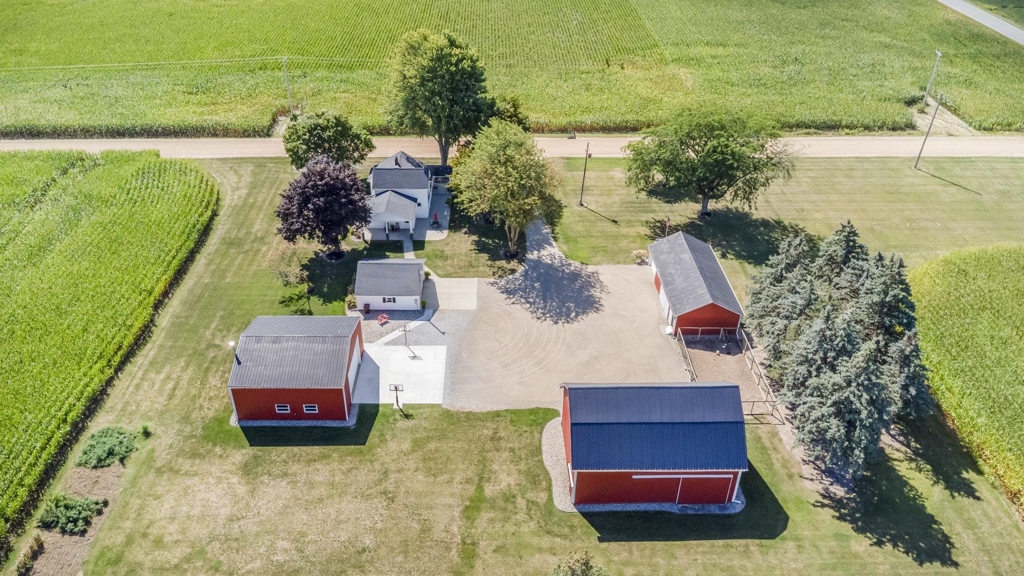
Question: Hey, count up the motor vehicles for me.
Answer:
none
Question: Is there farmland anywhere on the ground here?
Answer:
Yes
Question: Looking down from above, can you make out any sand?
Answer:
No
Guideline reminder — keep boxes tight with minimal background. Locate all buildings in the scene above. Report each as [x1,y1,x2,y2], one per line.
[647,231,746,338]
[559,383,748,503]
[360,149,455,240]
[353,259,426,310]
[227,316,363,422]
